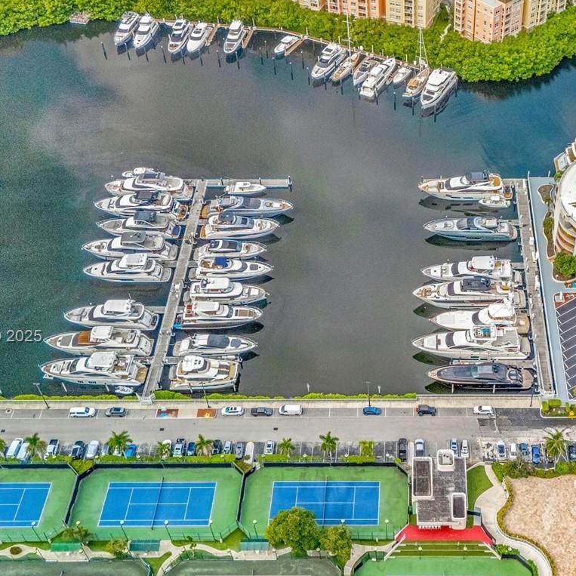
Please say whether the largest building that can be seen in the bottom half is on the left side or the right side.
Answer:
right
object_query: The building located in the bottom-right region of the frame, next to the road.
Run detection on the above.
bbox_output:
[411,450,469,535]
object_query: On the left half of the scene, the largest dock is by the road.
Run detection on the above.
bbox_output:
[135,176,292,390]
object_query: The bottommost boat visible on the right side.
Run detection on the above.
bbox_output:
[427,365,534,395]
